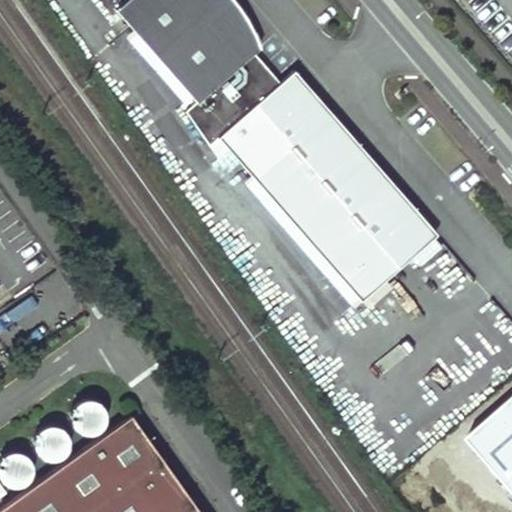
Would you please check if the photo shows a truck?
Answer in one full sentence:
Yes, the photo shows a truck.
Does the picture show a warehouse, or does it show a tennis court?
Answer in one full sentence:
It is a warehouse that can be seen here.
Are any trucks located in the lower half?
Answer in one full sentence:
Yes, in the lower half there is a truck.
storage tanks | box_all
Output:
[70,399,112,438]
[0,451,38,490]
[32,425,75,464]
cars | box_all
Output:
[26,252,48,270]
[316,7,337,26]
[477,0,500,22]
[470,0,486,10]
[485,11,508,32]
[410,108,430,126]
[20,242,42,260]
[230,486,244,506]
[493,20,512,42]
[416,116,436,136]
[500,35,512,52]
[450,162,472,182]
[460,173,480,192]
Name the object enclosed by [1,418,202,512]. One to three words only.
building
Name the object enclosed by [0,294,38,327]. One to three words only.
truck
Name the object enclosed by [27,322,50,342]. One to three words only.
vehicle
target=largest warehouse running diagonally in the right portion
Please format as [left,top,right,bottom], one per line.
[212,72,444,310]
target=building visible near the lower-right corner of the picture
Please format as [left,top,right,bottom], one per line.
[464,397,512,496]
